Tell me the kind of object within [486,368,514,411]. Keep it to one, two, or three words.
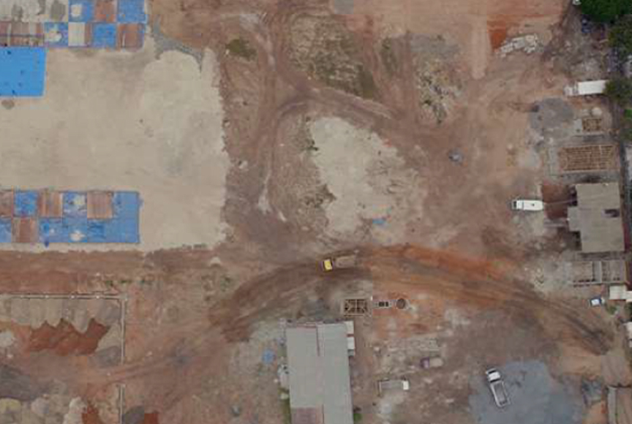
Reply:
truck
